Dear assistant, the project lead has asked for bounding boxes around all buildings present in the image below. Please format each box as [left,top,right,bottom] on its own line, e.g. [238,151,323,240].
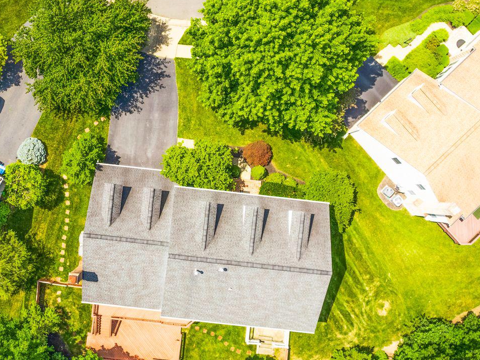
[67,162,334,334]
[347,36,480,230]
